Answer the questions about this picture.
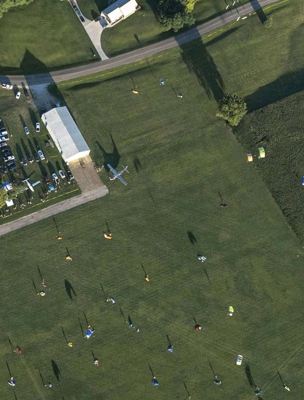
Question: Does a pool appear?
No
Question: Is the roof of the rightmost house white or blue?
white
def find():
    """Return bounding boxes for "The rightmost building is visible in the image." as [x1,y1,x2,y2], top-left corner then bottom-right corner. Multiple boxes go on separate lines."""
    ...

[104,2,143,27]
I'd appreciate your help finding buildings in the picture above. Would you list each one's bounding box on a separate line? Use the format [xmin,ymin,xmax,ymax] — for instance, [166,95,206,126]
[104,2,143,27]
[38,108,91,165]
